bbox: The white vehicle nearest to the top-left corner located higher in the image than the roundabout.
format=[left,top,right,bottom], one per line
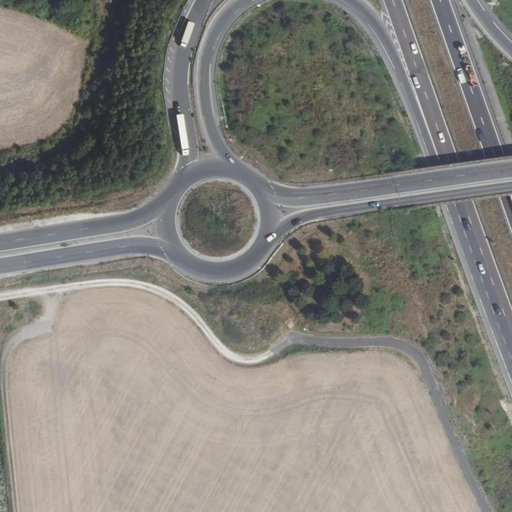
[180,19,194,48]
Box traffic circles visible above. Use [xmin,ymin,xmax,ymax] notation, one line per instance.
[127,131,300,285]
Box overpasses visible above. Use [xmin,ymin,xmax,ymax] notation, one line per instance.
[392,156,512,212]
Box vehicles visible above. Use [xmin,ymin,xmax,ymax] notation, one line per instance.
[266,233,276,242]
[174,102,179,112]
[370,202,380,208]
[458,48,478,87]
[226,152,236,163]
[291,218,302,226]
[462,218,470,230]
[180,19,194,48]
[457,68,467,84]
[410,41,417,52]
[438,131,445,143]
[478,262,486,274]
[477,130,484,141]
[494,302,502,315]
[178,113,189,156]
[468,66,476,84]
[412,75,420,88]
